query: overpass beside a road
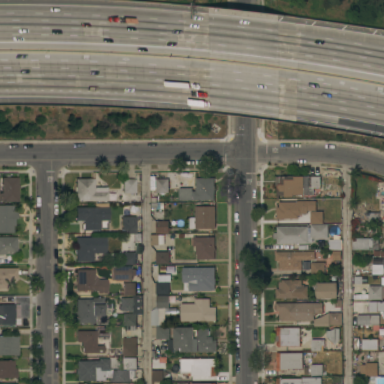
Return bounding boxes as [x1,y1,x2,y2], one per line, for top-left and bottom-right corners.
[209,6,278,120]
